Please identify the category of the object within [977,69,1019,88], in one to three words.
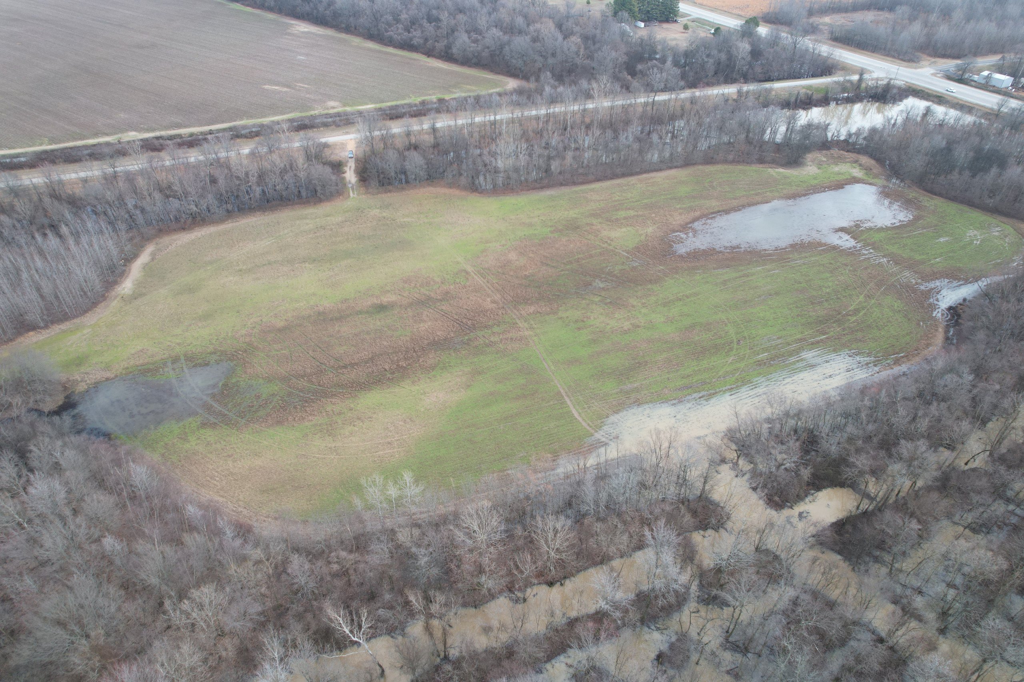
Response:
building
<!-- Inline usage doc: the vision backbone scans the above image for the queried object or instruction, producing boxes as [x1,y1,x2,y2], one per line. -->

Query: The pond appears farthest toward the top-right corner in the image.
[757,95,1003,150]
